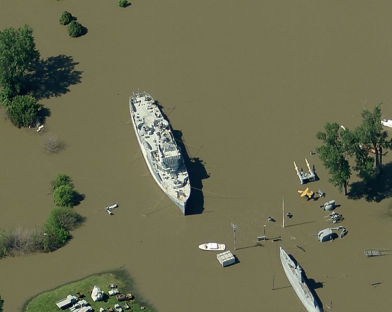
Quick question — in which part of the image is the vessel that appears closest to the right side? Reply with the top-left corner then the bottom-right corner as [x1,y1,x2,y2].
[279,242,322,312]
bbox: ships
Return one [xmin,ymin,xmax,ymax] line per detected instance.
[279,242,322,312]
[131,93,188,212]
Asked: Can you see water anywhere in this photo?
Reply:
Yes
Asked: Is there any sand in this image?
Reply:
No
